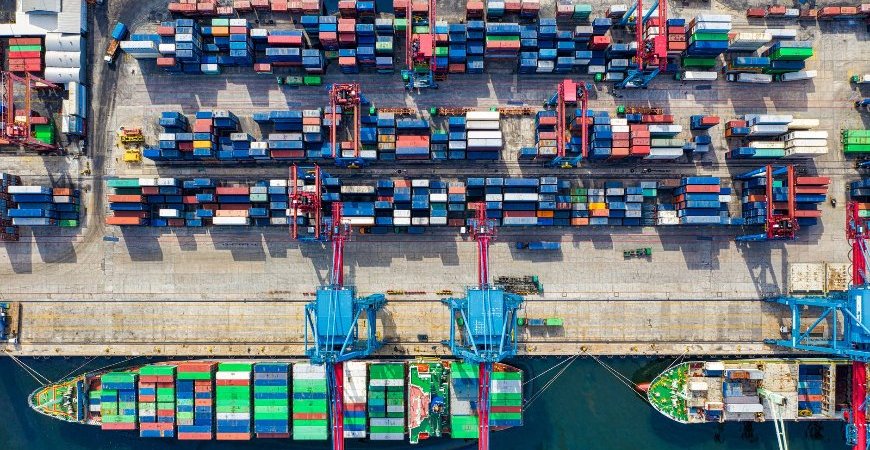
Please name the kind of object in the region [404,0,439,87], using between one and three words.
crane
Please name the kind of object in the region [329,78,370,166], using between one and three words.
crane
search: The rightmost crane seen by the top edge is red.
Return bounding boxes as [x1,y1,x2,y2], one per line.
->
[616,0,669,87]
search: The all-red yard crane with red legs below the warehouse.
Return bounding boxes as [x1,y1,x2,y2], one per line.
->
[2,66,71,152]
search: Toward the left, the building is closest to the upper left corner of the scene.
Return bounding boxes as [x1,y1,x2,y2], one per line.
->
[0,0,87,87]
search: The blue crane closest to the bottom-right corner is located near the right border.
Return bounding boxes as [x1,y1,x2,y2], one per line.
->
[768,202,870,450]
